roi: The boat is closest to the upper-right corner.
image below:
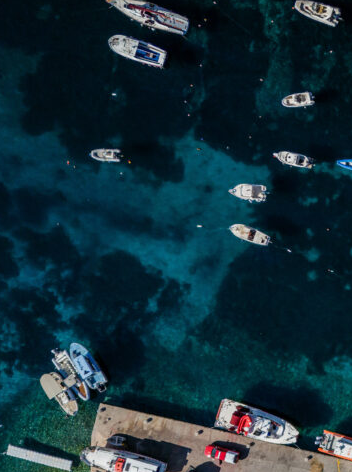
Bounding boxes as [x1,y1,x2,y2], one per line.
[284,0,342,28]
